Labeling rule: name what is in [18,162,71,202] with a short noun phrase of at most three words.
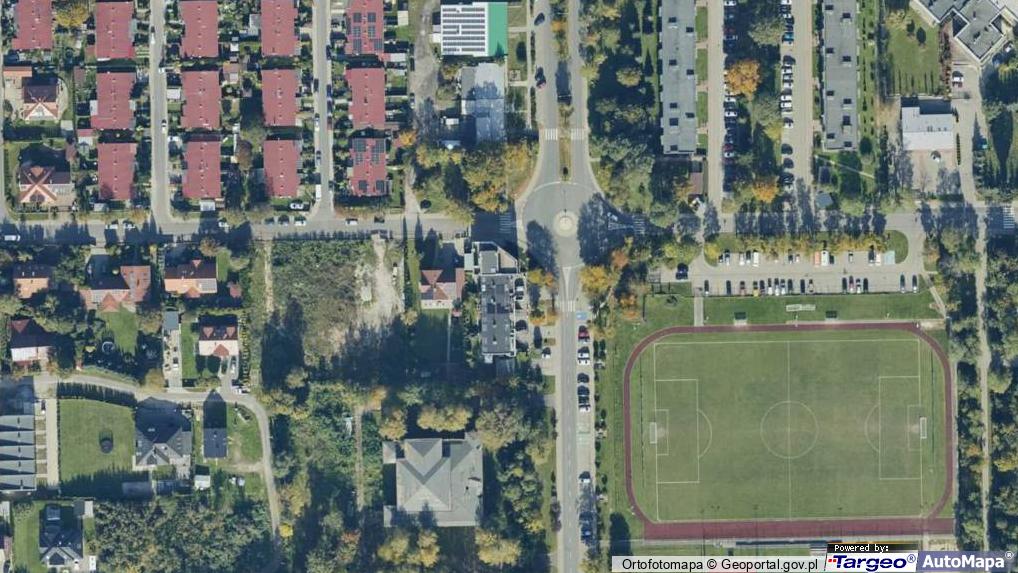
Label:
house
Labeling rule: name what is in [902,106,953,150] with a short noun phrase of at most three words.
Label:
building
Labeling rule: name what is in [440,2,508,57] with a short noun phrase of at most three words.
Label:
building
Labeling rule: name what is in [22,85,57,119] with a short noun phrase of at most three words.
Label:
house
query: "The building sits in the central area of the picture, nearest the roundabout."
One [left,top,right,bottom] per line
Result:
[465,243,517,373]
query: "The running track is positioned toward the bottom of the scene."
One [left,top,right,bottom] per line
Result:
[623,322,954,541]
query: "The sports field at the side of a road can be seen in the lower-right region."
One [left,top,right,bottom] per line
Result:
[650,335,926,521]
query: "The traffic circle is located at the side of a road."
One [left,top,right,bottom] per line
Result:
[524,181,623,270]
